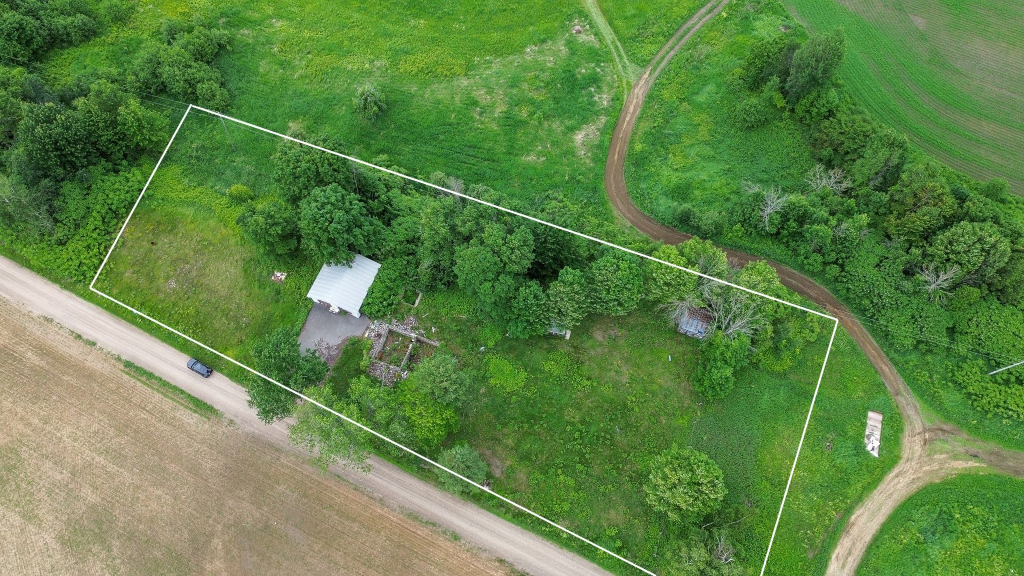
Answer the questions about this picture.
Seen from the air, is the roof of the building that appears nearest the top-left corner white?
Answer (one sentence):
Yes, the roof of the building that appears nearest the top-left corner is white.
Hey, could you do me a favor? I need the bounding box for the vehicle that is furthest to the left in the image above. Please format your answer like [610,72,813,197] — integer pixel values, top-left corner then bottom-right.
[186,360,216,378]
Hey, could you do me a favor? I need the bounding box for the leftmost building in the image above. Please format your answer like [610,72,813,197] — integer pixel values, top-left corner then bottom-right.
[307,250,378,313]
